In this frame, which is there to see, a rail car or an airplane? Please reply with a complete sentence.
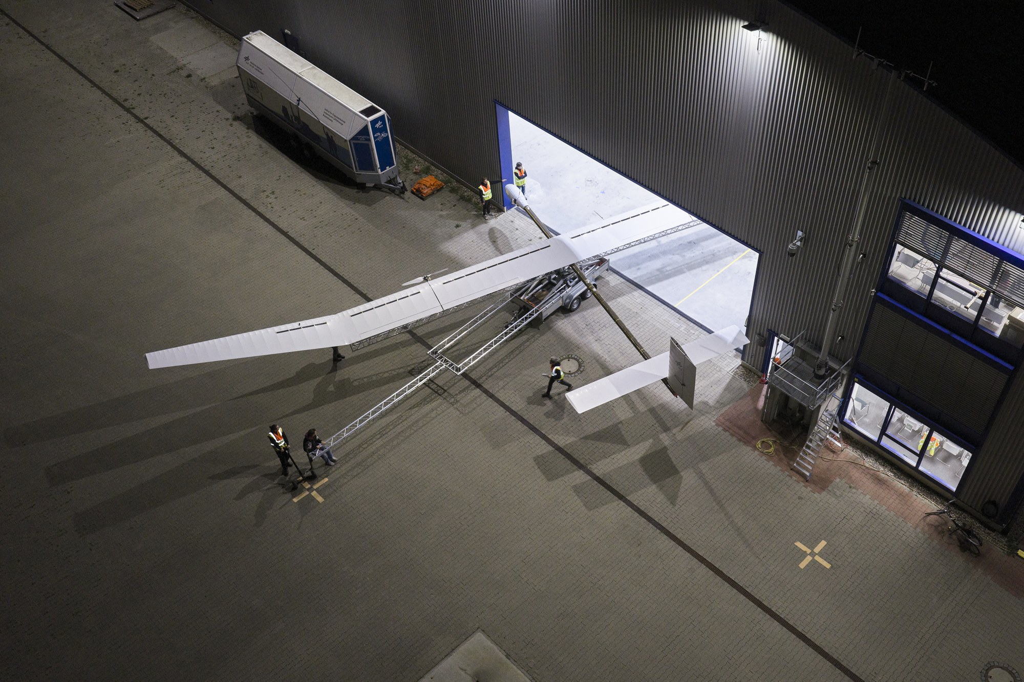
The image shows an airplane.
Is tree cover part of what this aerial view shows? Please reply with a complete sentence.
No, there's no tree cover in this view.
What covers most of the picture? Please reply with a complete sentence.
For the most part, this view shows paved ground.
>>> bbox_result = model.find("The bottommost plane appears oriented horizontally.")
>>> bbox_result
[145,183,748,413]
